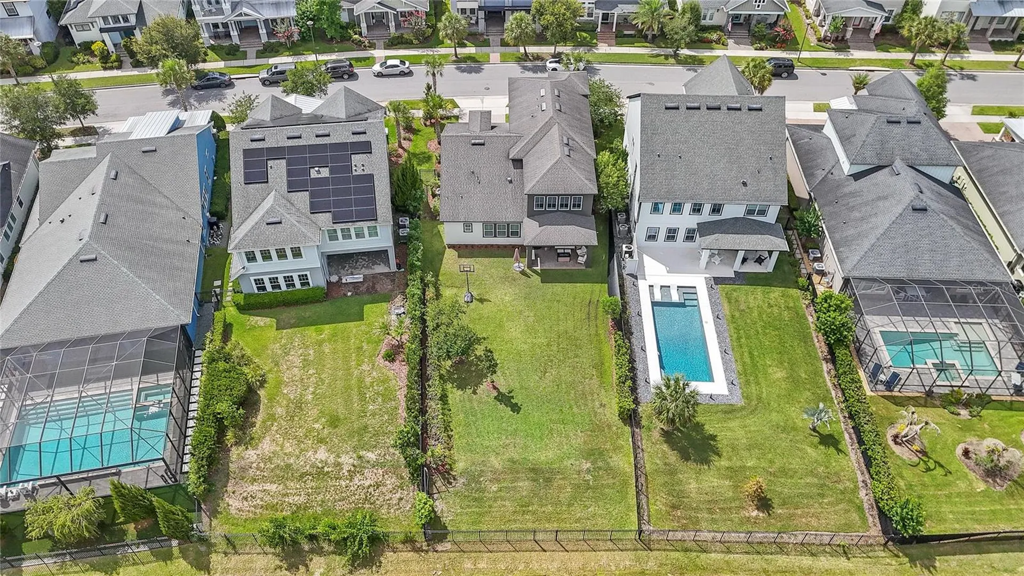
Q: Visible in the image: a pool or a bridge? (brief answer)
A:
pool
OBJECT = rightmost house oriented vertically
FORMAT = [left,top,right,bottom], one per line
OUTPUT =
[950,116,1024,294]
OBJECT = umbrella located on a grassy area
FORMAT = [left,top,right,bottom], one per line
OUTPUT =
[512,247,525,273]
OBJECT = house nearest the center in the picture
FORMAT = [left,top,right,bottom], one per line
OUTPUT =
[437,70,599,268]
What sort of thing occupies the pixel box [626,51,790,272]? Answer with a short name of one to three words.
house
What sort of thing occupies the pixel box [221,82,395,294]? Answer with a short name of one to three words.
house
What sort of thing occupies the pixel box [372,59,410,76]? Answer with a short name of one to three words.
car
